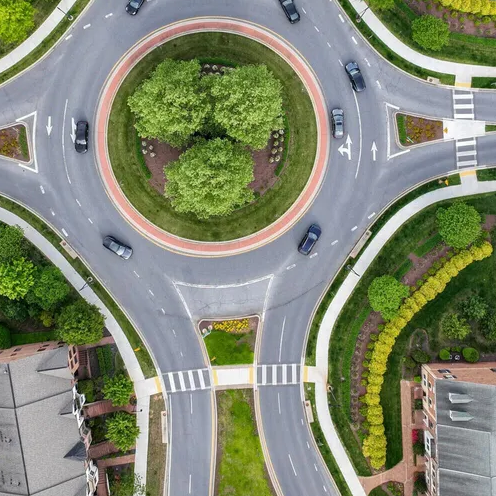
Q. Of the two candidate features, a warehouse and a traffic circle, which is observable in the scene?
traffic circle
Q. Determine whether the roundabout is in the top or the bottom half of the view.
top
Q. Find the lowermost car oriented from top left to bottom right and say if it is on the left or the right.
left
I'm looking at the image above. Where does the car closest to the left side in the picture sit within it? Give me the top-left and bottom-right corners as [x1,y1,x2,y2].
[73,119,90,153]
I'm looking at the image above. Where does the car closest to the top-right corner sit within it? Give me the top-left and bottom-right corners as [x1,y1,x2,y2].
[343,60,366,92]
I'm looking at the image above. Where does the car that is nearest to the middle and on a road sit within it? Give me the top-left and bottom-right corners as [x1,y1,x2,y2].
[298,222,321,256]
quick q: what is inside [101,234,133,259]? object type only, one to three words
car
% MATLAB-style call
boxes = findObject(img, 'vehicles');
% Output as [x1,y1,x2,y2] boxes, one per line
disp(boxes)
[101,234,133,259]
[343,60,366,92]
[298,222,321,256]
[73,119,90,153]
[126,0,144,17]
[330,107,345,139]
[279,0,299,25]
